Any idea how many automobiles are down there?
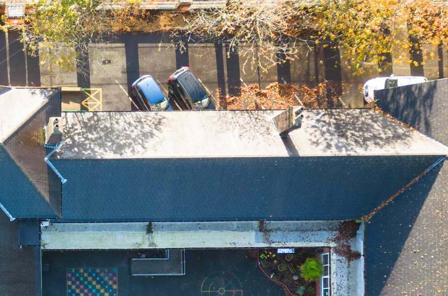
three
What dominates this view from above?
buildings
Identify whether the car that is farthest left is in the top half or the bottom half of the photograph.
top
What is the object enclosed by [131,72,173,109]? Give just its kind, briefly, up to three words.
car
